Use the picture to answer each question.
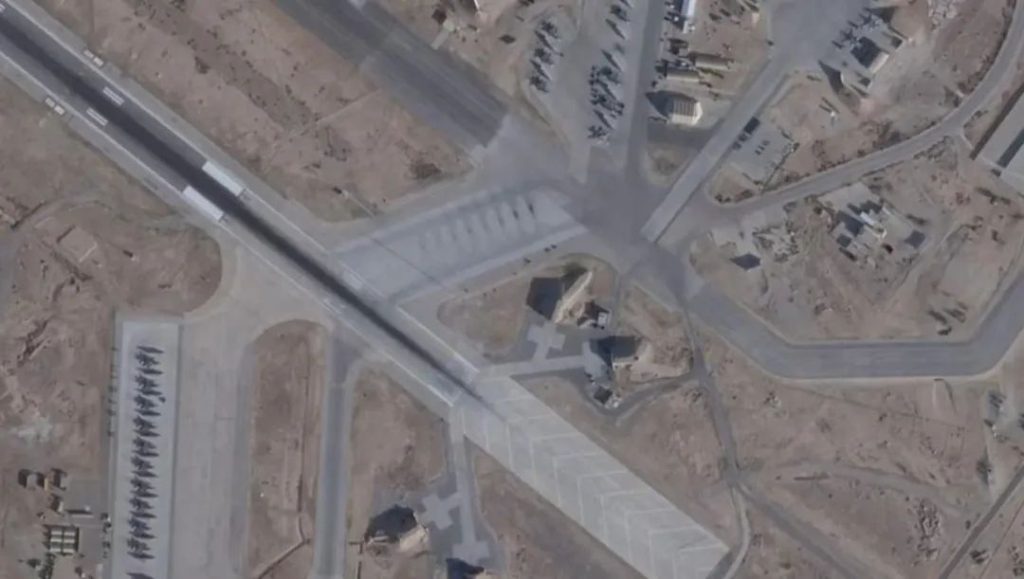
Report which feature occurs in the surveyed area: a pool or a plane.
plane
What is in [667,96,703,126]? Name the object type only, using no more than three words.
hangar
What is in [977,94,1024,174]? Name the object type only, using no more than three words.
building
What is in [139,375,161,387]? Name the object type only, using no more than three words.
airplane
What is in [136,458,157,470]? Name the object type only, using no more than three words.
airplane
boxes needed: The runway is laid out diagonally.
[0,0,478,407]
